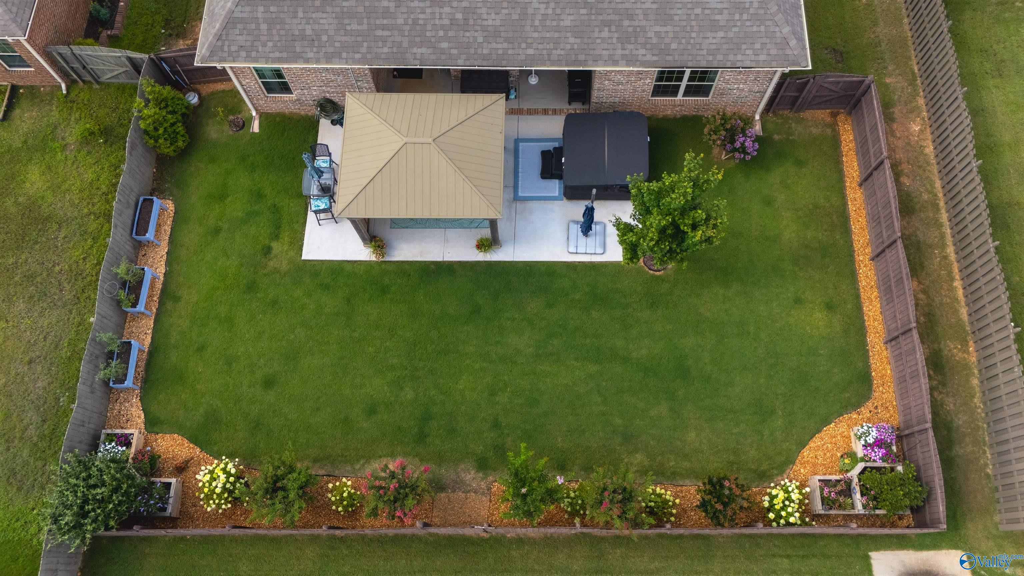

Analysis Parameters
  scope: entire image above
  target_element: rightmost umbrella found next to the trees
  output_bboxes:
[568,187,606,253]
